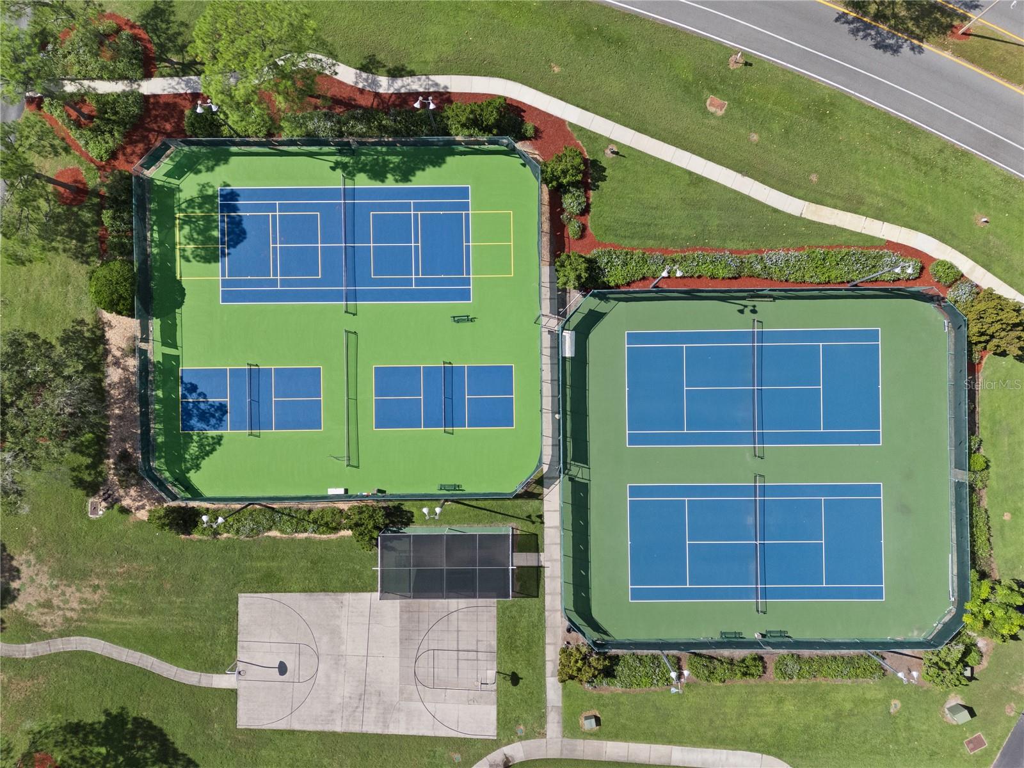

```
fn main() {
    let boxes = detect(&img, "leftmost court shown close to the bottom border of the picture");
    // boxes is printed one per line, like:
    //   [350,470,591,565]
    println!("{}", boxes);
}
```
[237,593,497,739]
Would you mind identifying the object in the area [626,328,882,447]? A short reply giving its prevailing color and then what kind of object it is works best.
blue tennis court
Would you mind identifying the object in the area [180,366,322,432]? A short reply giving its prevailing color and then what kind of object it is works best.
blue sports court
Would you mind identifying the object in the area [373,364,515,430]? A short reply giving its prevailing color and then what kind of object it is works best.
blue sports court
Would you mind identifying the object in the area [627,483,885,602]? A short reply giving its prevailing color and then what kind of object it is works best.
blue tennis court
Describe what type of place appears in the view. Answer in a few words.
sports ground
